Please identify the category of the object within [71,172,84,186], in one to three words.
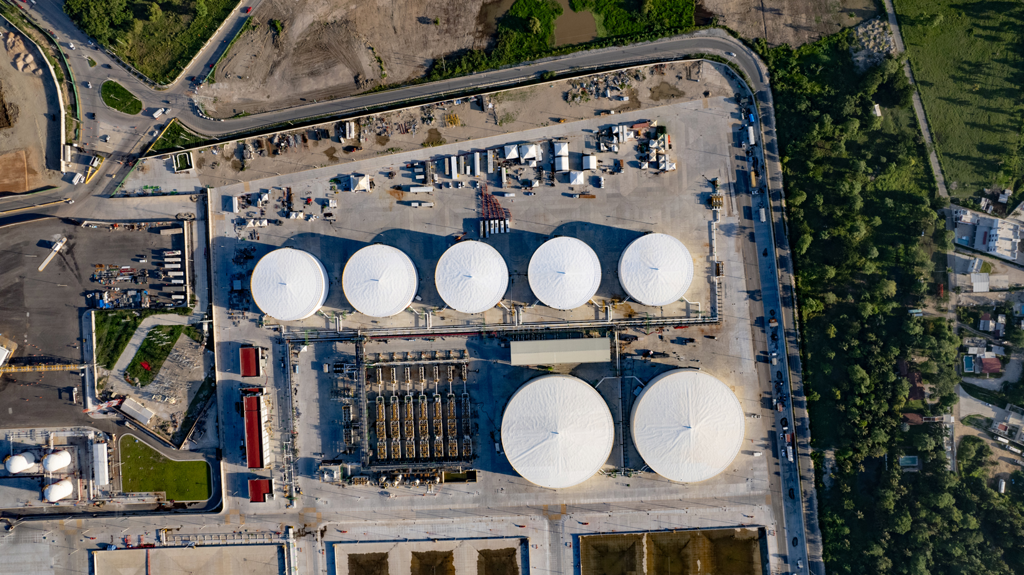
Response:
vehicle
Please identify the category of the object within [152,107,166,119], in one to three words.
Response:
vehicle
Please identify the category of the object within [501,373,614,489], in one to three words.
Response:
storage tank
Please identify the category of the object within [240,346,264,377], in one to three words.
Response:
building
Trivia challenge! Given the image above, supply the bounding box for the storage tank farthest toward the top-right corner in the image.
[618,230,694,306]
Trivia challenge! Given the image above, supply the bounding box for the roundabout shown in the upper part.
[98,77,145,116]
